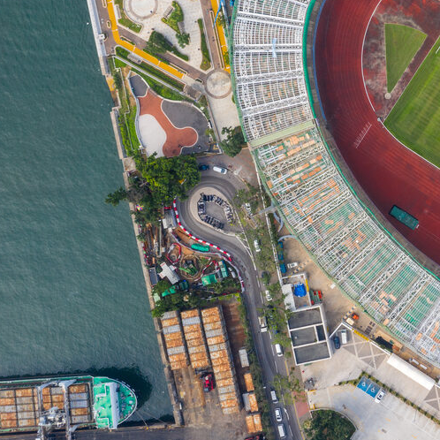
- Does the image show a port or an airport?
port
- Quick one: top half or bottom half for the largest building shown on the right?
bottom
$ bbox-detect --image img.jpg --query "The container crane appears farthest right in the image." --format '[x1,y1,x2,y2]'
[61,373,86,440]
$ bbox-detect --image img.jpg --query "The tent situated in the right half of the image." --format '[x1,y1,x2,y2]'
[387,353,435,391]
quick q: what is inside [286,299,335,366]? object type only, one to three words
building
